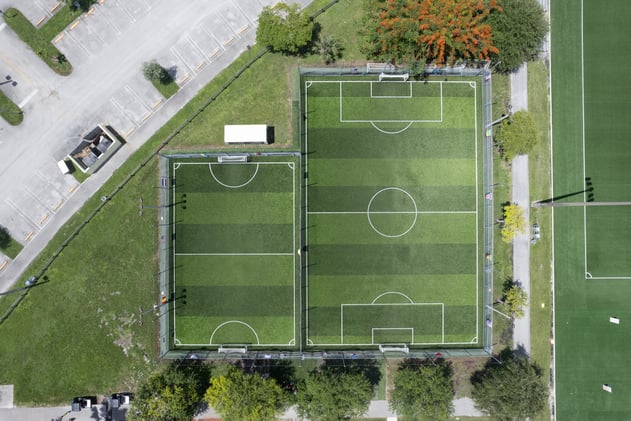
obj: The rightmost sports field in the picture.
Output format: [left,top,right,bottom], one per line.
[550,0,631,421]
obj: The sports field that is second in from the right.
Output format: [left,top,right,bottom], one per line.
[300,76,483,351]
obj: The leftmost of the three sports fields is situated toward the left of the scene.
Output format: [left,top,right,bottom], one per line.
[169,157,300,350]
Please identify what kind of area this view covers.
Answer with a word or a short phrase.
sports ground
